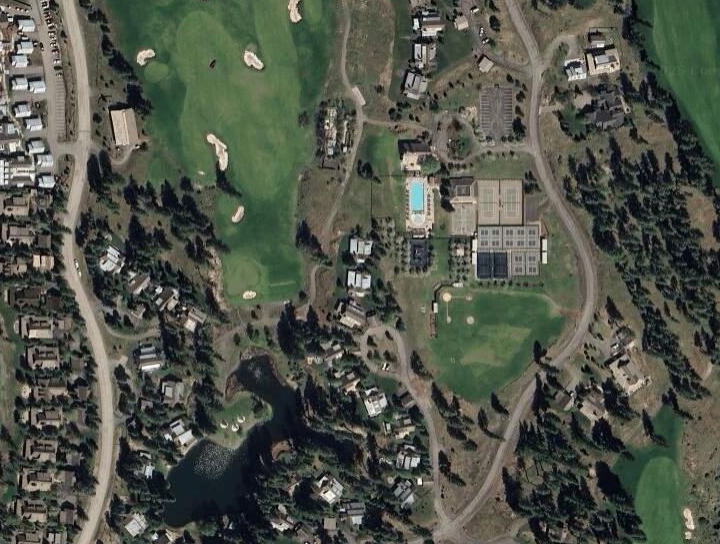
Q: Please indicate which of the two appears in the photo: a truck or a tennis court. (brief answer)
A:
tennis court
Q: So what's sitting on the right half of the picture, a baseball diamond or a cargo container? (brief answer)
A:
baseball diamond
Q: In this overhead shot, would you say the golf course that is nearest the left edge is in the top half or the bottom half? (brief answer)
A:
top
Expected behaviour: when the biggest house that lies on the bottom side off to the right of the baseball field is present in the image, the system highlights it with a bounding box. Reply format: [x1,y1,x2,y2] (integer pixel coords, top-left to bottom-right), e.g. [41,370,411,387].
[603,354,650,393]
